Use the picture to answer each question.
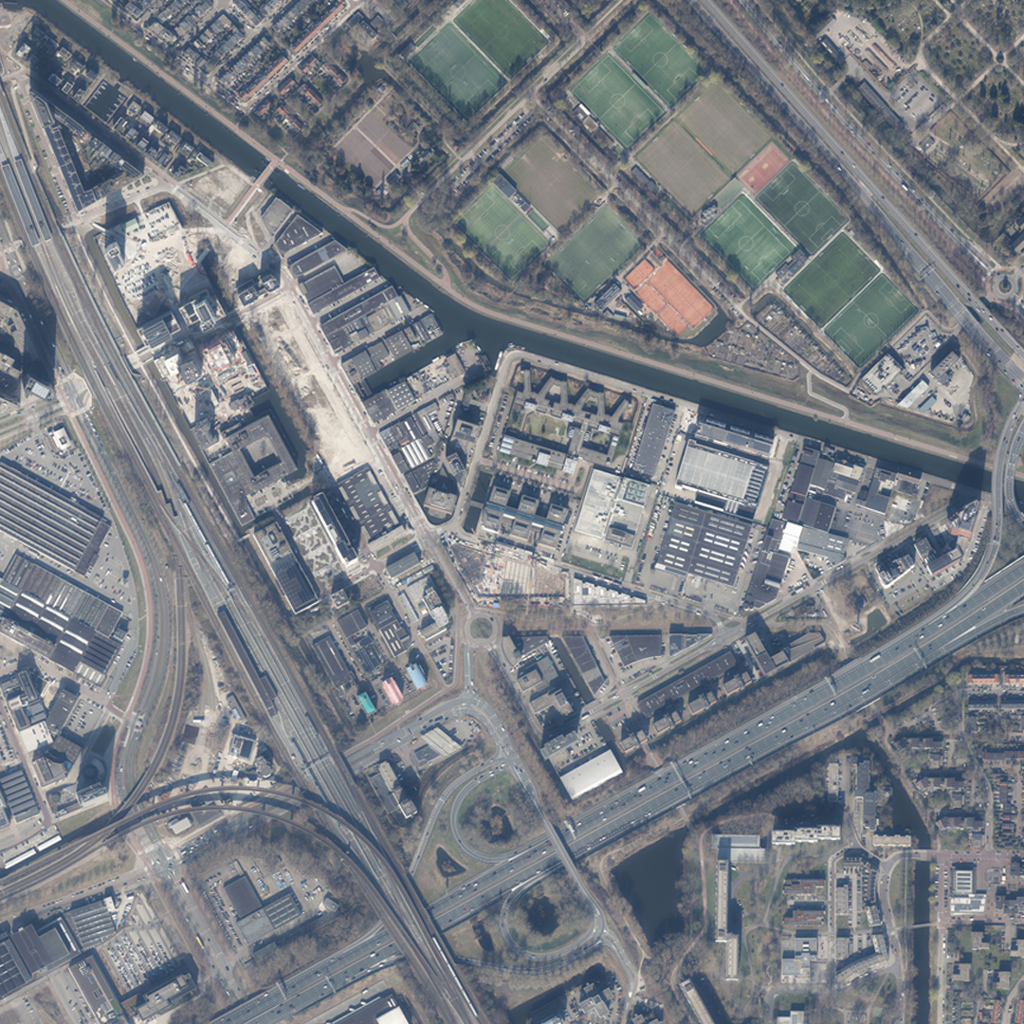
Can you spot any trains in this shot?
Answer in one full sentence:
Yes, the picture does show a train.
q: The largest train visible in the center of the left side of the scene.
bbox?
[185,507,232,585]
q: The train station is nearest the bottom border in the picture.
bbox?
[212,599,294,760]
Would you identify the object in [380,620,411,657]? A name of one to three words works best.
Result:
building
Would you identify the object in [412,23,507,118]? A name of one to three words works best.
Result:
soccer field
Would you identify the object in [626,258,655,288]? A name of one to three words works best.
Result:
tennis court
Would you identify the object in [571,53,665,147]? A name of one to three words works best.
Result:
soccer field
